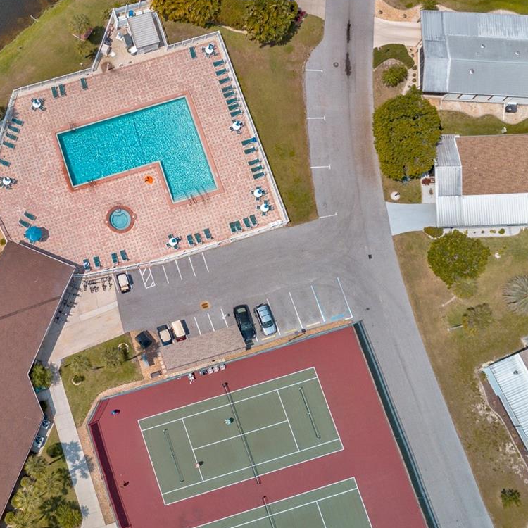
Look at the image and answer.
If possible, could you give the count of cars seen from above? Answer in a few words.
two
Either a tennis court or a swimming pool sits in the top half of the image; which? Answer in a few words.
swimming pool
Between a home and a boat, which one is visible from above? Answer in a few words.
home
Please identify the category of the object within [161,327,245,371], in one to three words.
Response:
building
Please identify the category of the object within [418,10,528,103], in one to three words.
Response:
house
